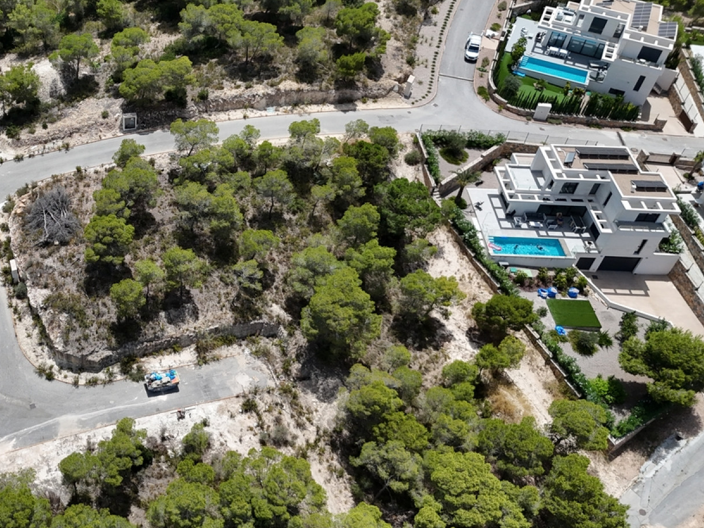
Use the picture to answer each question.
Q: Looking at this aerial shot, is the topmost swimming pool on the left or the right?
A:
right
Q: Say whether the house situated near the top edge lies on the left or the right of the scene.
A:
right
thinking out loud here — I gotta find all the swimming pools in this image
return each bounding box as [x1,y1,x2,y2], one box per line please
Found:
[515,54,591,96]
[483,233,575,272]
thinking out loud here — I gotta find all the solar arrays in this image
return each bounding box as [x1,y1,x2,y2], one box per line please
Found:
[581,165,638,172]
[658,23,676,39]
[632,3,651,30]
[574,150,630,158]
[630,183,668,191]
